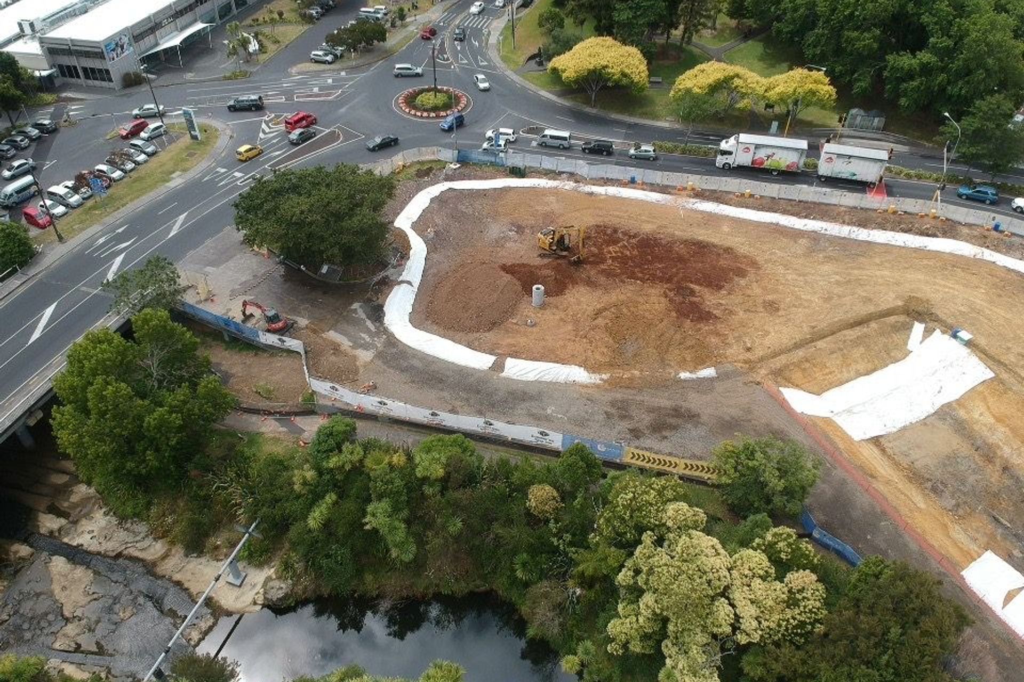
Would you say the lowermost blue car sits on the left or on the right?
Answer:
right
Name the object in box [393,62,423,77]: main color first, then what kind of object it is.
gray car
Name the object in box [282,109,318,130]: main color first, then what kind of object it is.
red vehicle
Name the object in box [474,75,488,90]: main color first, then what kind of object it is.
white car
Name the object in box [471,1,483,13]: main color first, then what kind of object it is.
white vehicle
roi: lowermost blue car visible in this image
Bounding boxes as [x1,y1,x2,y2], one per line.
[956,184,999,204]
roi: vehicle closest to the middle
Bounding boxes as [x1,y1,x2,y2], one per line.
[540,220,588,259]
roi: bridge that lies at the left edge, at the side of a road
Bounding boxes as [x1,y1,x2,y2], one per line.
[0,263,181,447]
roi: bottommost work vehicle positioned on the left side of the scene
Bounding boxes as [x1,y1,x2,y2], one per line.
[246,290,291,331]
